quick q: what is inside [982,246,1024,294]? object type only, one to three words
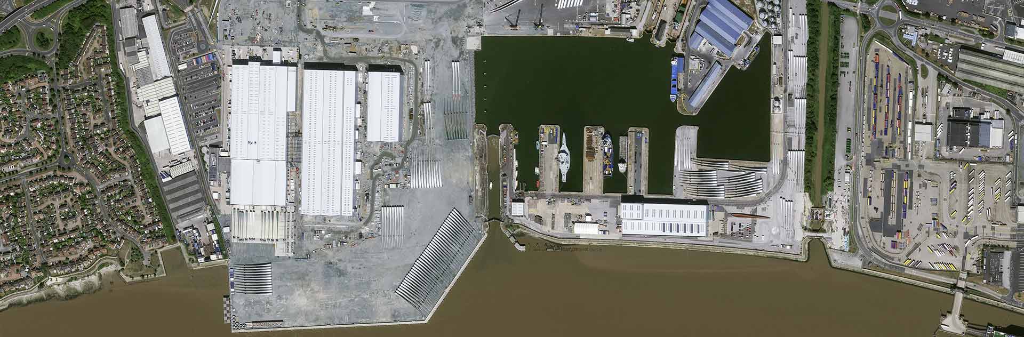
building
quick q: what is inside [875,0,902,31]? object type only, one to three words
roundabout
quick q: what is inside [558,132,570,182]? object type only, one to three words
ship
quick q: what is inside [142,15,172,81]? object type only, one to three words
building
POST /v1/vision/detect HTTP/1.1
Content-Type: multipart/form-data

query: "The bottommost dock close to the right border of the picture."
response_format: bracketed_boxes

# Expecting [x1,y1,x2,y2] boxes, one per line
[934,271,990,337]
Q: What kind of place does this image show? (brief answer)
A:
port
